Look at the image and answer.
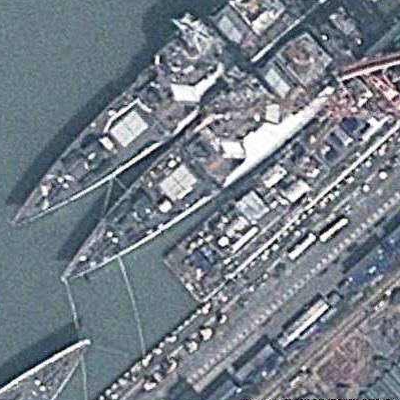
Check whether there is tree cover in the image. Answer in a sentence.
No, tree cover can't be seen anywhere here.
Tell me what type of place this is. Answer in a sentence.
This looks like a port.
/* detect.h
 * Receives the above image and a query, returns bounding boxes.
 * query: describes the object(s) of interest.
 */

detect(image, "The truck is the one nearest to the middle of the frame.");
[287,234,319,262]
